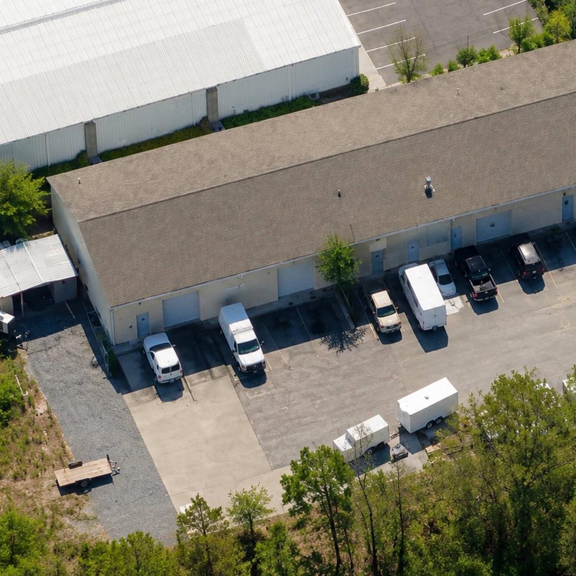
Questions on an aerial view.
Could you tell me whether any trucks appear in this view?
Yes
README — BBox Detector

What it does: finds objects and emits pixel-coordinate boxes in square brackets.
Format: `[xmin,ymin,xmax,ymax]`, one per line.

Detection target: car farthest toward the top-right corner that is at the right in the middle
[505,234,543,280]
